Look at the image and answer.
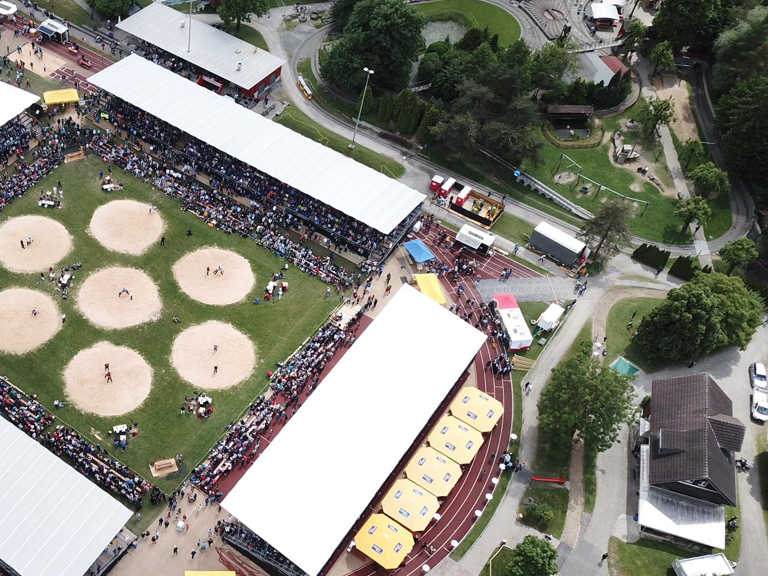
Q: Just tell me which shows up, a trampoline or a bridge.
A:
bridge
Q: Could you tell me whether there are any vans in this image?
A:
Yes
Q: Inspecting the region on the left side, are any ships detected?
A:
No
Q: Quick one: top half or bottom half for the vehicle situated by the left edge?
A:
top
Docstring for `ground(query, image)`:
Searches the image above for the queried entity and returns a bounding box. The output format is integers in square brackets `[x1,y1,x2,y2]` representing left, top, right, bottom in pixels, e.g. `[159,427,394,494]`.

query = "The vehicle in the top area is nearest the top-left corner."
[36,23,66,44]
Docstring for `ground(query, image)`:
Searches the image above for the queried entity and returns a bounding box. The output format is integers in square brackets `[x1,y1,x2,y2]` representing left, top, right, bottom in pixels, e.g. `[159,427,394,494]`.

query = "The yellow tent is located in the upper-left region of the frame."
[44,92,79,110]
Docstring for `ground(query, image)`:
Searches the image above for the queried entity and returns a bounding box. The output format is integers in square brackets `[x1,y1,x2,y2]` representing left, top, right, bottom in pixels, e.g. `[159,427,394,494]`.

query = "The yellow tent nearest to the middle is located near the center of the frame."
[412,275,445,307]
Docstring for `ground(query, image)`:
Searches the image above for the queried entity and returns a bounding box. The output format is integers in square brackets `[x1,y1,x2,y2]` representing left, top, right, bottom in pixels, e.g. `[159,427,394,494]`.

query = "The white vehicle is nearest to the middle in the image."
[450,230,492,260]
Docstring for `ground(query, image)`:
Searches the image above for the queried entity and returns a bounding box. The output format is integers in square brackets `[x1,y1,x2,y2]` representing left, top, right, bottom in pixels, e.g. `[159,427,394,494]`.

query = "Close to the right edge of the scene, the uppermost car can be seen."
[750,361,768,386]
